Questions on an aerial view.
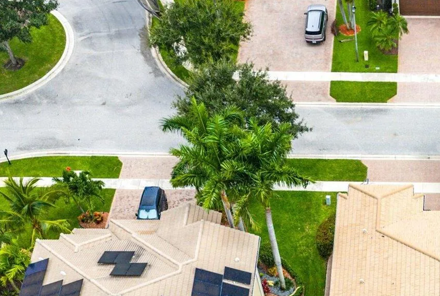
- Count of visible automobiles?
2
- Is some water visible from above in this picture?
No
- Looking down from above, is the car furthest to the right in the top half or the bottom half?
top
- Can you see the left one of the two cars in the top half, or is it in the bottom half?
bottom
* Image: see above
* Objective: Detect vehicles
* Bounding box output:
[139,183,171,217]
[305,3,328,39]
